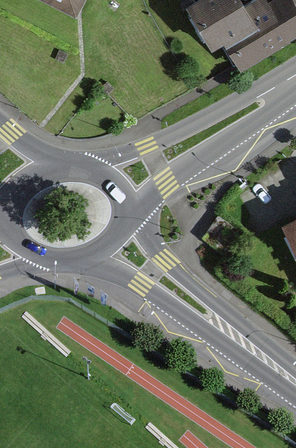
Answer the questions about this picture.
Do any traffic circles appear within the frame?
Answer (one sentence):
Yes, this view includes a traffic circle.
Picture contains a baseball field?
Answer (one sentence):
No, I find no baseball field anywhere in the image.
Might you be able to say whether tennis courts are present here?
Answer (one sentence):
No, this view has no tennis court in it.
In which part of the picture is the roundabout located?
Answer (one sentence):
Look in the left portion of the view to spot the roundabout.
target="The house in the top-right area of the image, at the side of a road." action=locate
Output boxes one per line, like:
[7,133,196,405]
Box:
[183,0,296,72]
